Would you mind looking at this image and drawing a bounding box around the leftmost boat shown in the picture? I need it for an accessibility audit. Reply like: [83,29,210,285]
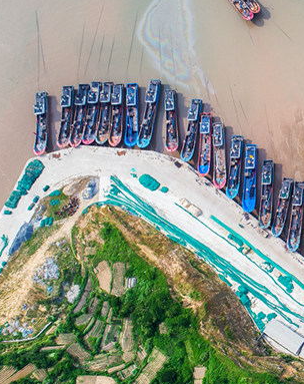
[33,91,49,156]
